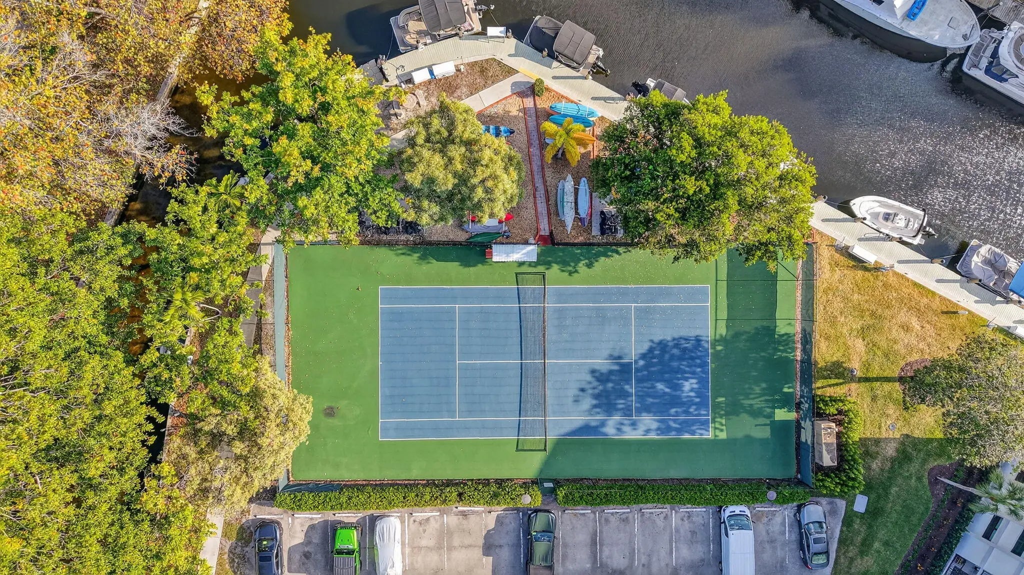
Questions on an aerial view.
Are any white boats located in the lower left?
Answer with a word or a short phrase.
No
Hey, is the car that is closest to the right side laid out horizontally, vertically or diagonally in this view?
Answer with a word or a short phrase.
vertically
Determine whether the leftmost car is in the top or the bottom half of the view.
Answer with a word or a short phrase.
bottom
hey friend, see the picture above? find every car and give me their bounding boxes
[526,510,558,575]
[374,516,402,575]
[329,523,362,575]
[249,521,284,575]
[799,504,835,574]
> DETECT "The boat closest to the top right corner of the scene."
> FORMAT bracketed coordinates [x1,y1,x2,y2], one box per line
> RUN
[957,23,1024,109]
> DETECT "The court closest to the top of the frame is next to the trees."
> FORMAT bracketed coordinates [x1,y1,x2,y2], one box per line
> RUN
[288,244,796,479]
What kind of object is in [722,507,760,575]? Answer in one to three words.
van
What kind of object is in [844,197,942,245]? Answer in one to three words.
boat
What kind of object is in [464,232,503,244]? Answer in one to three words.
boat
